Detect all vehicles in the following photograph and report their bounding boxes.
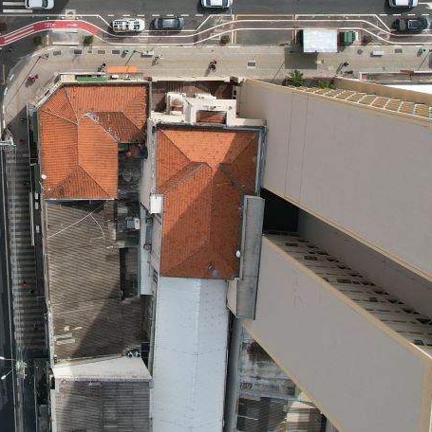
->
[386,0,416,8]
[24,0,54,10]
[153,17,184,31]
[112,17,144,32]
[200,0,232,9]
[392,17,428,32]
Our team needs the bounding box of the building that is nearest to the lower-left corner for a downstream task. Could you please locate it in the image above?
[47,358,152,432]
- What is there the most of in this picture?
buildings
